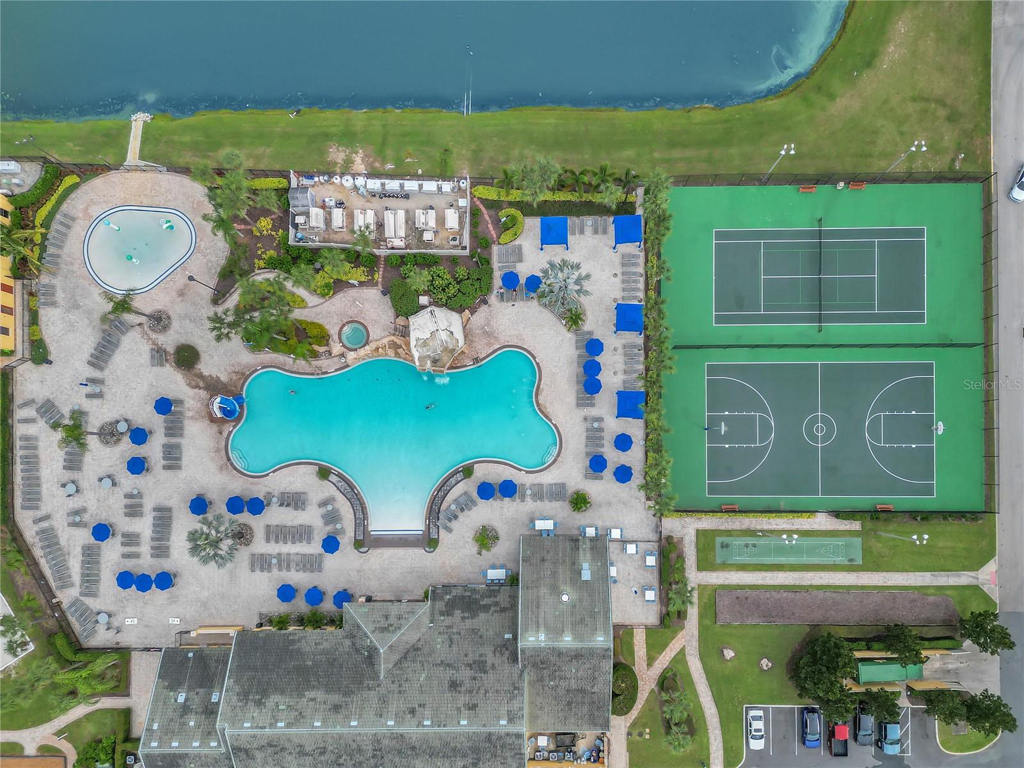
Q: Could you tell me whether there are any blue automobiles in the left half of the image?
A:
No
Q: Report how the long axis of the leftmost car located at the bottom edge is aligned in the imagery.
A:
up and down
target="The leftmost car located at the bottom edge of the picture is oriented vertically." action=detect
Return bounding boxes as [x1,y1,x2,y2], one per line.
[747,709,768,753]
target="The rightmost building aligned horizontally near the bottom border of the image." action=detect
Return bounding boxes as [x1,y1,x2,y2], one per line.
[139,536,613,768]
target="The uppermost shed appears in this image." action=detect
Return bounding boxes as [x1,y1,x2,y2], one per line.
[288,183,313,209]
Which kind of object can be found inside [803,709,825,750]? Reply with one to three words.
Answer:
car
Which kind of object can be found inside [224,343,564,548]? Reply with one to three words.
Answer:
swimming pool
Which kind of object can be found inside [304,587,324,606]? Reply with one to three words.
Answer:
umbrella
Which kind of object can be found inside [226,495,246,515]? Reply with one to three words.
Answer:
umbrella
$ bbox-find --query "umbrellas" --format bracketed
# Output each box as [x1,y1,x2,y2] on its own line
[304,587,324,606]
[189,497,209,516]
[588,454,608,473]
[333,589,353,609]
[582,358,602,377]
[584,338,604,358]
[498,479,517,498]
[226,495,246,515]
[501,271,521,291]
[277,583,297,603]
[613,433,633,452]
[92,522,115,542]
[154,571,174,591]
[130,427,150,446]
[116,570,136,589]
[476,481,496,501]
[247,496,266,516]
[321,534,341,554]
[583,377,602,396]
[135,573,155,592]
[127,456,149,476]
[613,464,633,484]
[154,396,176,416]
[524,275,543,294]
